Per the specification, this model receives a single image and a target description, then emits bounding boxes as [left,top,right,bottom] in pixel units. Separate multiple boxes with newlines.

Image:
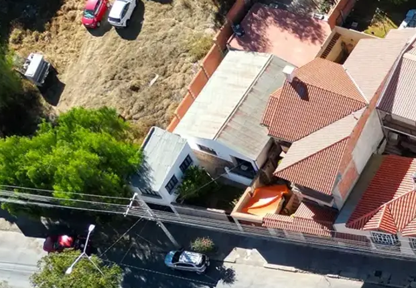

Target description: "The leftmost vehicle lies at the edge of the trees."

[17,50,51,87]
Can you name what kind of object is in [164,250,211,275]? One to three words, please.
car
